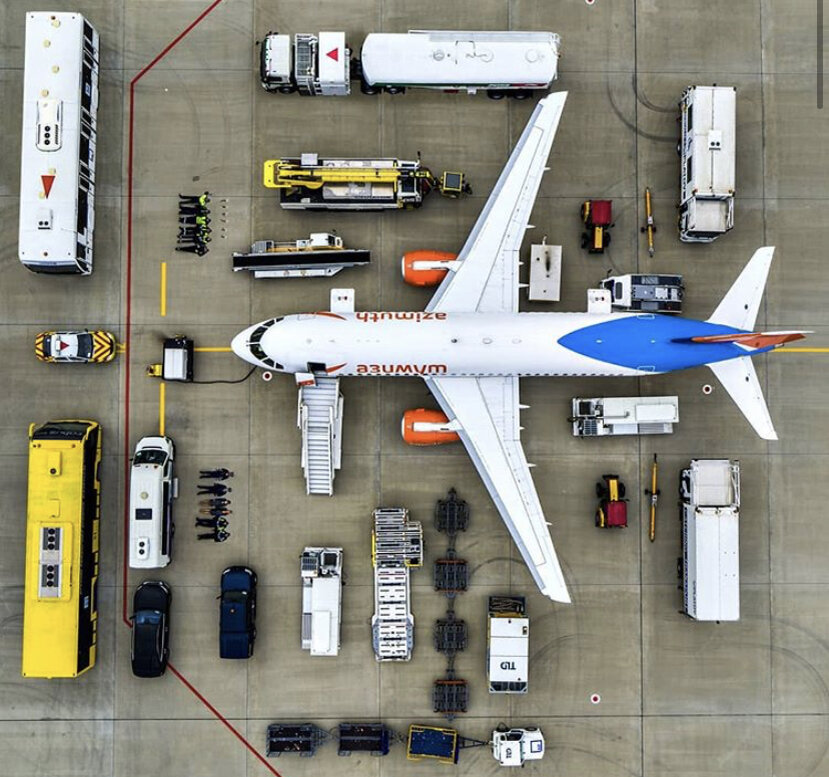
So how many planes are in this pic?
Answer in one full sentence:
Just 1 plane appears in this view.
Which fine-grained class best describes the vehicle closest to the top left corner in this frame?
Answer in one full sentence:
It turns out the vehicle closest to the top left corner is a bus.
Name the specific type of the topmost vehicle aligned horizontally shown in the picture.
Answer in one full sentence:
The topmost vehicle aligned horizontally appears to be a truck.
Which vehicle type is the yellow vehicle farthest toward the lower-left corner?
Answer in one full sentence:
I'd identify the yellow vehicle farthest toward the lower-left corner as a bus.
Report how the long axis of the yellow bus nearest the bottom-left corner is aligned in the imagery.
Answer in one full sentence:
The yellow bus nearest the bottom-left corner has been laid out vertically relative to the frame.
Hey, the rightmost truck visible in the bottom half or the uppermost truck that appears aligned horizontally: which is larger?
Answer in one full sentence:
Of the two, the uppermost truck that appears aligned horizontally is larger and the rightmost truck visible in the bottom half is the smaller one.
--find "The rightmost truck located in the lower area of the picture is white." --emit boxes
[677,469,741,622]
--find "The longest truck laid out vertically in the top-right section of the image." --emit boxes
[676,86,738,245]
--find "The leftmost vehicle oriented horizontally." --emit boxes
[37,328,119,367]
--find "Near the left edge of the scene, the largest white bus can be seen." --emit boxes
[19,12,98,274]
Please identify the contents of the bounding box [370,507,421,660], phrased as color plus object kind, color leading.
white work vehicle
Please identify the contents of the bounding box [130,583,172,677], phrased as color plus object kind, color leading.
black car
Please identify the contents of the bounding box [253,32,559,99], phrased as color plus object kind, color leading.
white truck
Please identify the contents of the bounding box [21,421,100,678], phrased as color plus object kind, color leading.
yellow bus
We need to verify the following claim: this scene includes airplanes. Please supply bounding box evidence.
[232,91,814,604]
